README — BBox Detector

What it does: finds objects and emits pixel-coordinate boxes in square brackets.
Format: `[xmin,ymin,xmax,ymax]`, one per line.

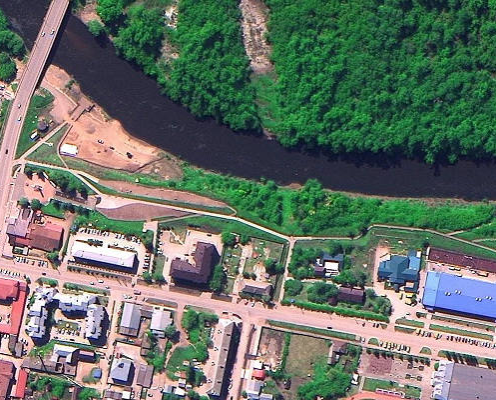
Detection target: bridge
[17,0,69,101]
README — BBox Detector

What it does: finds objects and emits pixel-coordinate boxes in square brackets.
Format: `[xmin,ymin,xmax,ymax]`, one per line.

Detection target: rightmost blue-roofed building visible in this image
[422,271,496,320]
